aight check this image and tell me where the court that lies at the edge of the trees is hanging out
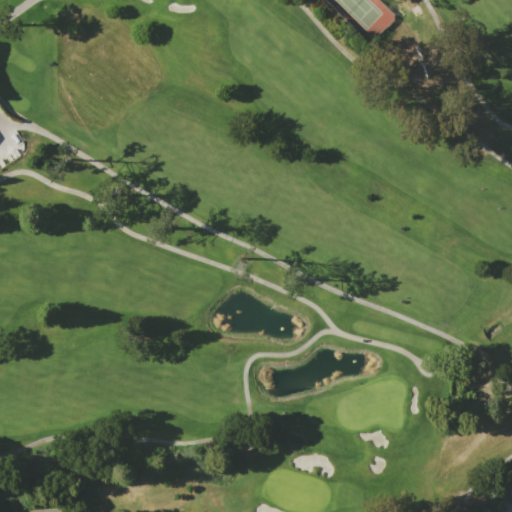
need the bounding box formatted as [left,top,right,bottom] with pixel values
[331,0,393,40]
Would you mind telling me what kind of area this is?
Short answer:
golf course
